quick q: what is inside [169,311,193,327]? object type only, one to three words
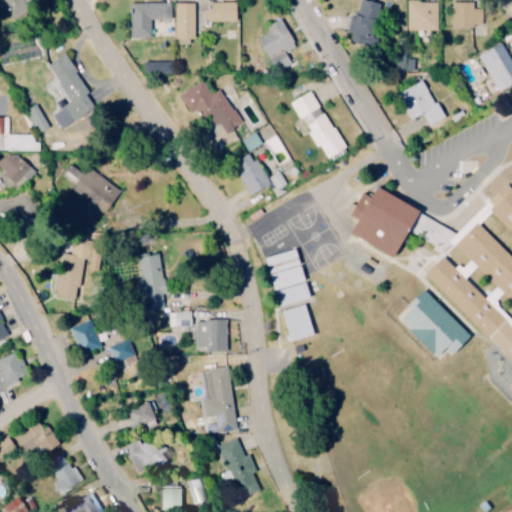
building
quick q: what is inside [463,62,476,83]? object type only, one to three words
swimming pool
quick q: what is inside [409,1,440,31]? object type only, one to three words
house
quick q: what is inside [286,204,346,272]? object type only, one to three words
basketball court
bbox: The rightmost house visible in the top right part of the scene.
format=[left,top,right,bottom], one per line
[478,40,512,94]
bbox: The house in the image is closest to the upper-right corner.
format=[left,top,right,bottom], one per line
[454,1,486,30]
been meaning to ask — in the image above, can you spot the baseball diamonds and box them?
[356,476,418,512]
